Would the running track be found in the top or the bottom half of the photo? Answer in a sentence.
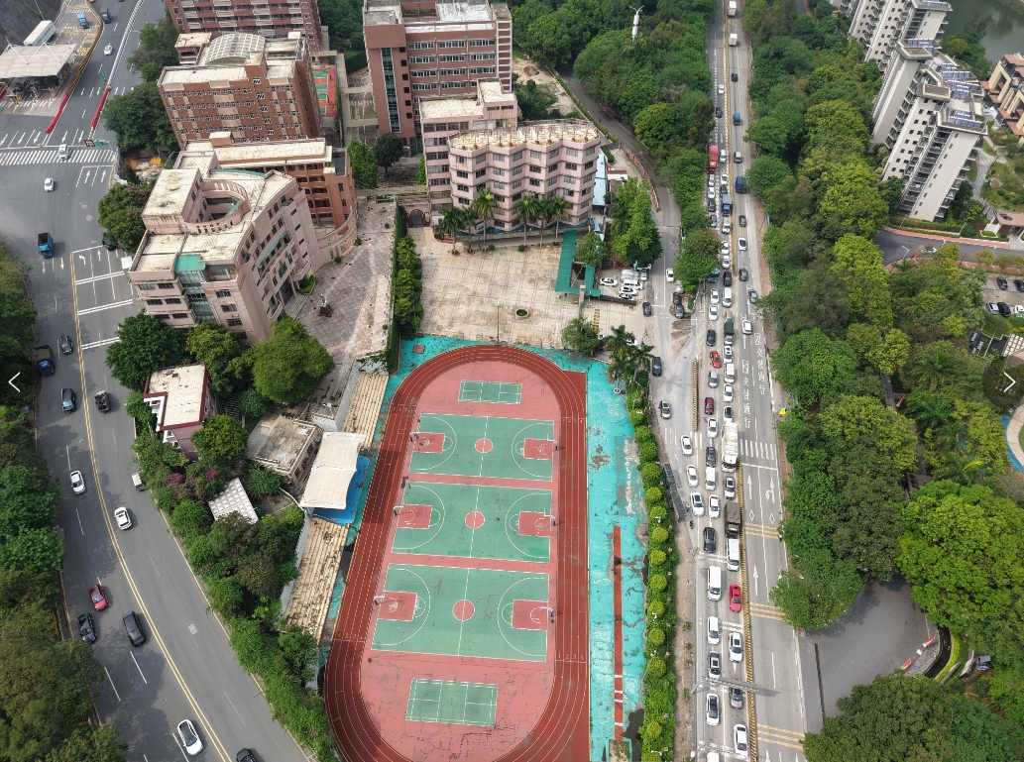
Seen from above, the running track lies in the bottom half of the view.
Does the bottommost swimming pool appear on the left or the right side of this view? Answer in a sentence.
The bottommost swimming pool is on the right side of the image.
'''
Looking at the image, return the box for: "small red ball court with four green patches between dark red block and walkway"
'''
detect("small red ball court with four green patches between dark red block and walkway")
[311,65,332,116]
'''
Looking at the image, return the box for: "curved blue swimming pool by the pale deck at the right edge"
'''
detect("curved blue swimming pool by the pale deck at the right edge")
[952,421,1024,480]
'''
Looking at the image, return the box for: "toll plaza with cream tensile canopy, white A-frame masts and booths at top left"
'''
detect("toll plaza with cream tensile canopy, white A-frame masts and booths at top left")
[0,21,95,96]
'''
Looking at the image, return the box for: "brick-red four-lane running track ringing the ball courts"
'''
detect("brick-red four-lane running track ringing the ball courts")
[326,345,590,762]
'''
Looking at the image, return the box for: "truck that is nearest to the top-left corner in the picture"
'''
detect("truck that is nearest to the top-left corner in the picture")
[23,20,52,44]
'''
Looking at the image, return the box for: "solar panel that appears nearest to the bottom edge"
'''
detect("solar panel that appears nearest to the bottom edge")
[943,97,982,132]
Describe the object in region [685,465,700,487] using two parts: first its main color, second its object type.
white car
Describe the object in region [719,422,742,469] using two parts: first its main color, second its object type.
white truck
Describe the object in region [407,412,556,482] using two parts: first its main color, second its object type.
green basketball court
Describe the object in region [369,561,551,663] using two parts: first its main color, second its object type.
green basketball court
